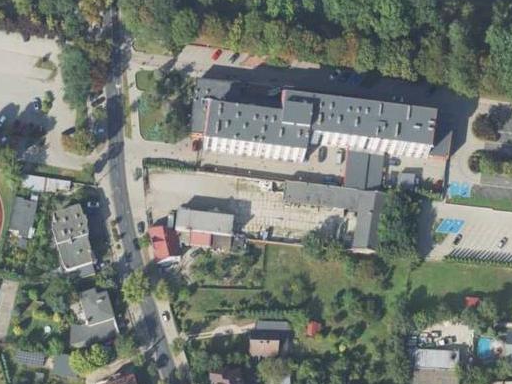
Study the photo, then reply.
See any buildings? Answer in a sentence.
Yes, a building is visible in the scene.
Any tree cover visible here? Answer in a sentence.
Yes, there is tree cover in the image.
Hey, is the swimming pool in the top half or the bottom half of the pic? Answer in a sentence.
The swimming pool is in the bottom half of the image.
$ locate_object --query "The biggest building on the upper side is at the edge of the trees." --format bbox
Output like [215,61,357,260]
[190,78,450,165]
